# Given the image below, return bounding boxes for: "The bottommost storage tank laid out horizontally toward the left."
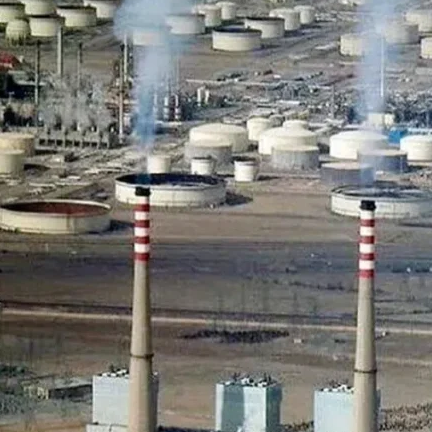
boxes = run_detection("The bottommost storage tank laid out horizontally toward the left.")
[0,198,115,234]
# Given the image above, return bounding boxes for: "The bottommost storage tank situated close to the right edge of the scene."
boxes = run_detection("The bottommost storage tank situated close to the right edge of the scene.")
[331,185,432,219]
